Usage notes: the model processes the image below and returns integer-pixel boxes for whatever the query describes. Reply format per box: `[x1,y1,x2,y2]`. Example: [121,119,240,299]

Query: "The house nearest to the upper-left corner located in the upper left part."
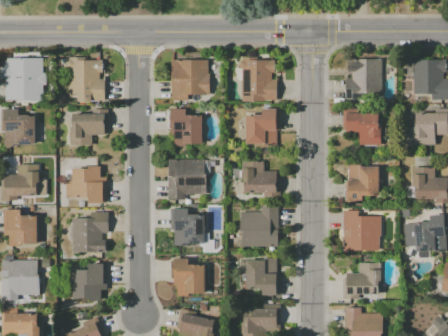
[6,58,46,101]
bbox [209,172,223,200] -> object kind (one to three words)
swimming pool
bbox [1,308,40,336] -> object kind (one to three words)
house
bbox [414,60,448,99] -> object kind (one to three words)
house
